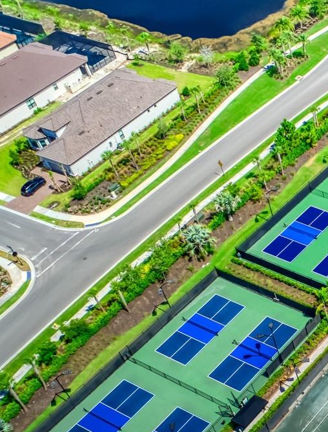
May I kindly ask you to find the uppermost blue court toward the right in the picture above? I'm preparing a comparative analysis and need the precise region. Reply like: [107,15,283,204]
[262,206,328,261]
